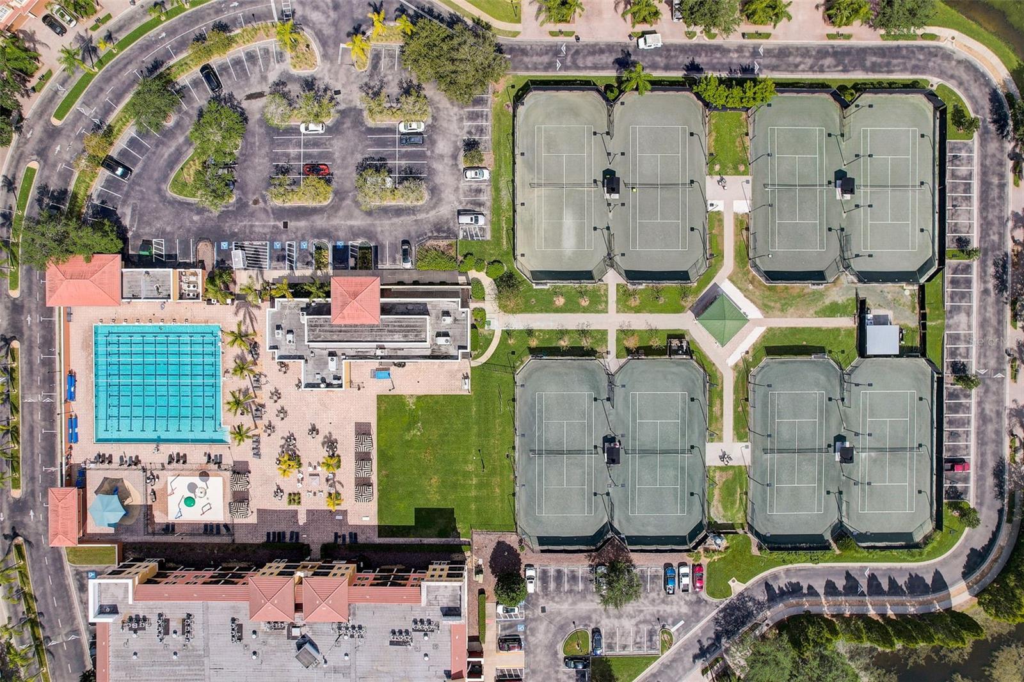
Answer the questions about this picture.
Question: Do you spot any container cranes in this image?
No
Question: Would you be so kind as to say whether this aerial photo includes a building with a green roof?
Yes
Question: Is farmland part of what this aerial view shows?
No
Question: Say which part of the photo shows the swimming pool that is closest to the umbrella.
left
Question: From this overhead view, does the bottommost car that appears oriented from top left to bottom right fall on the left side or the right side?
left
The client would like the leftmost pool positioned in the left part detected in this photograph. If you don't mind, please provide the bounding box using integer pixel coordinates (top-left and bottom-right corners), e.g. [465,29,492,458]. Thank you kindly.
[92,323,230,444]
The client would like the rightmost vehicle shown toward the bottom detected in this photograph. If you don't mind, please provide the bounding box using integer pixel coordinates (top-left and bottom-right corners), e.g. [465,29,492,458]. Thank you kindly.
[945,461,971,473]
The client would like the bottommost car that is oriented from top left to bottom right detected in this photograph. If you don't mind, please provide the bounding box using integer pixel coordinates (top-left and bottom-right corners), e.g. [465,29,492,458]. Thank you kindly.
[103,157,131,178]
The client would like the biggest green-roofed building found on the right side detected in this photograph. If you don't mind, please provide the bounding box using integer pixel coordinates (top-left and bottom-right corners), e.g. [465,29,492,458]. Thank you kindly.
[696,293,750,347]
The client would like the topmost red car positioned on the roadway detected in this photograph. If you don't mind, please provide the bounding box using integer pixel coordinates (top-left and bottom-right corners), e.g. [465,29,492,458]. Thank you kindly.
[305,163,329,175]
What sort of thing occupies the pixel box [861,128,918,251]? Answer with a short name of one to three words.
tennis court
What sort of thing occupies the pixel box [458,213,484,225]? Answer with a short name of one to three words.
vehicle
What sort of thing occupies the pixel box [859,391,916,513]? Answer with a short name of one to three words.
tennis court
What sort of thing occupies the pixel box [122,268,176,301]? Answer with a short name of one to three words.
building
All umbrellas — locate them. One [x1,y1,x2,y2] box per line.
[89,495,127,526]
